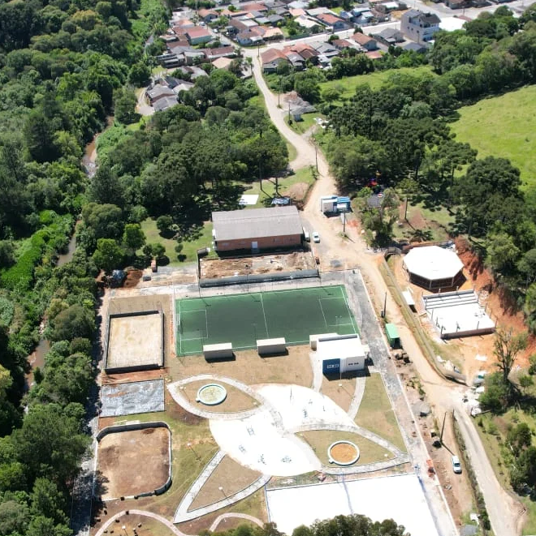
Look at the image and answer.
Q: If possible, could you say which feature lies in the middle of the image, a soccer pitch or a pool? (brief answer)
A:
soccer pitch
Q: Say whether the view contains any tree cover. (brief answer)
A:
Yes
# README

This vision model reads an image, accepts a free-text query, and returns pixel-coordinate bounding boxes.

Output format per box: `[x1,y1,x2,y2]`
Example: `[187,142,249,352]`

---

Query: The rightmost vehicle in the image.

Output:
[449,455,464,472]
